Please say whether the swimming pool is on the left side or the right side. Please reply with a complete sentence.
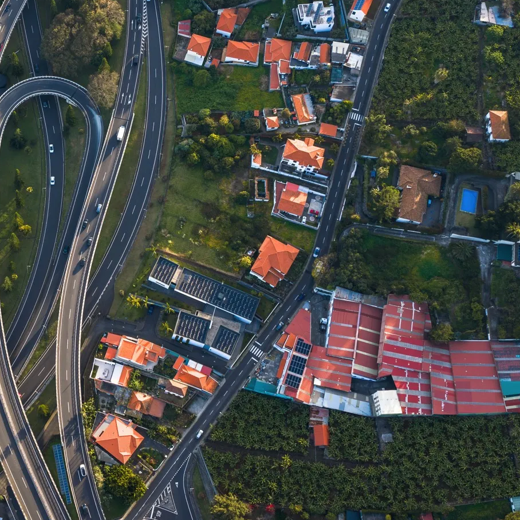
You can find the swimming pool on the right side of the picture.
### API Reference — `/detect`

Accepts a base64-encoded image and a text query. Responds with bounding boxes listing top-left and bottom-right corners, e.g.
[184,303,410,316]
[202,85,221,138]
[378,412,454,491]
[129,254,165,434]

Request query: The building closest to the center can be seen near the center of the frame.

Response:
[249,236,299,290]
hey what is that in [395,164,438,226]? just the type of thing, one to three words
house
